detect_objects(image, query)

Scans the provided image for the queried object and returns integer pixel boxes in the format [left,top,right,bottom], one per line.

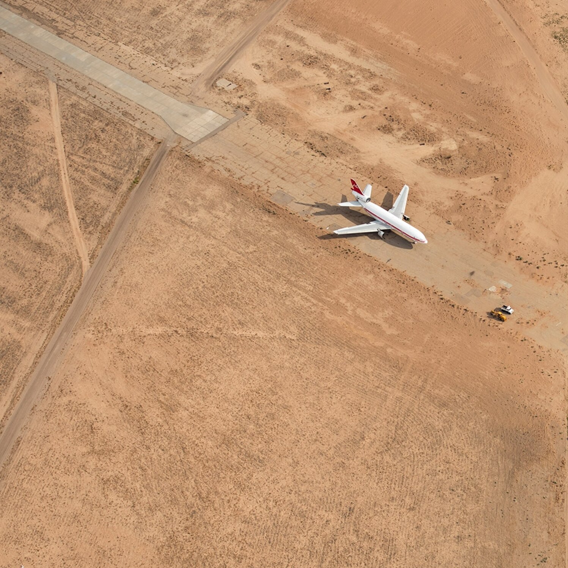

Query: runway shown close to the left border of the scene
[0,6,211,139]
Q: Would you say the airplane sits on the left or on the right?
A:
right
